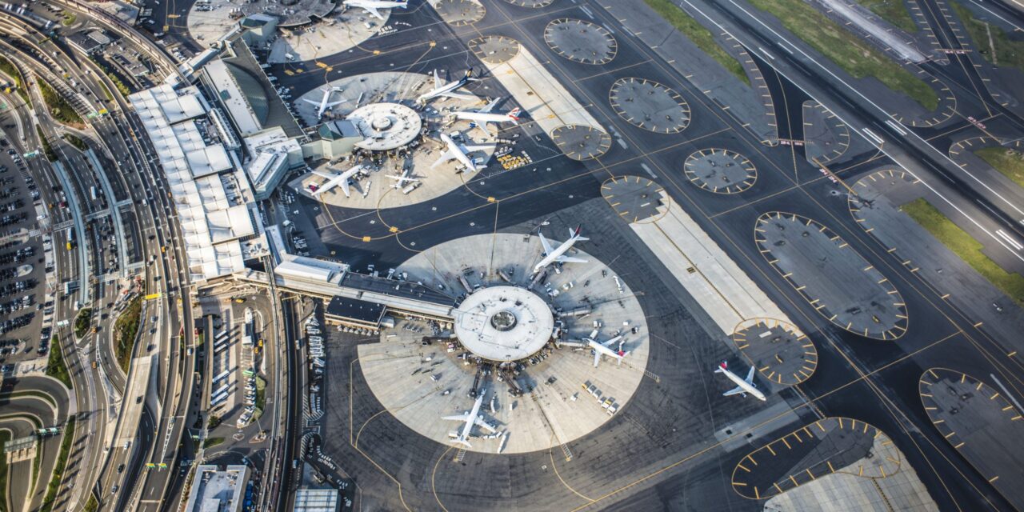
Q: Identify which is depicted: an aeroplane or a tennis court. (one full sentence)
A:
This aerial view contains an aeroplane.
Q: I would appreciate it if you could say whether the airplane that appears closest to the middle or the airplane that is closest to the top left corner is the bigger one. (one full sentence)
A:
Of the two, the airplane that appears closest to the middle is bigger, while the airplane that is closest to the top left corner is smaller.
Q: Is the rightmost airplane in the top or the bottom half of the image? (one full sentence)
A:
Seen from above, the rightmost airplane lies in the bottom half of the view.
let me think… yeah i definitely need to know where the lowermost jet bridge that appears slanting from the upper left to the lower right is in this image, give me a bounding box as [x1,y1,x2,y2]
[501,368,522,395]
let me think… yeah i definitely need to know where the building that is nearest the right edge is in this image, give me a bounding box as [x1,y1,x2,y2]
[455,287,553,363]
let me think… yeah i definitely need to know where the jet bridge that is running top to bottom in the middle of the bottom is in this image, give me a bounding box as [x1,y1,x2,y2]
[470,368,482,397]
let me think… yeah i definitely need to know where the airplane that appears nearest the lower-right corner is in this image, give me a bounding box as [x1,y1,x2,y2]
[712,358,766,401]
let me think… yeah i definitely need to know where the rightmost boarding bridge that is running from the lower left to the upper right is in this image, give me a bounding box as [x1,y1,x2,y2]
[526,266,545,292]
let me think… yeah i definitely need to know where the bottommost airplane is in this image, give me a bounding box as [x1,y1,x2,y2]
[442,390,497,447]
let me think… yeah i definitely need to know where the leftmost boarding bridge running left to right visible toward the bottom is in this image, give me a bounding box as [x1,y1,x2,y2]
[423,331,457,346]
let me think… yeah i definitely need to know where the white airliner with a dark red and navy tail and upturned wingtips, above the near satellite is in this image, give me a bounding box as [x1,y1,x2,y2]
[534,226,586,271]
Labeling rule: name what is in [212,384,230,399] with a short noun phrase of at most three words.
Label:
vehicle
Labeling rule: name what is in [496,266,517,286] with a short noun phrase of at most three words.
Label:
jet bridge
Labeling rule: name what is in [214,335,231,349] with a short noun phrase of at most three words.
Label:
vehicle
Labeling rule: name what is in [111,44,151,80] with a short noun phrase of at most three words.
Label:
building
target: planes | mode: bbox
[385,168,418,188]
[306,166,363,198]
[304,86,345,119]
[712,358,766,401]
[434,135,492,174]
[452,98,519,138]
[587,336,630,368]
[442,390,497,447]
[534,226,586,271]
[417,65,475,104]
[339,0,407,16]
